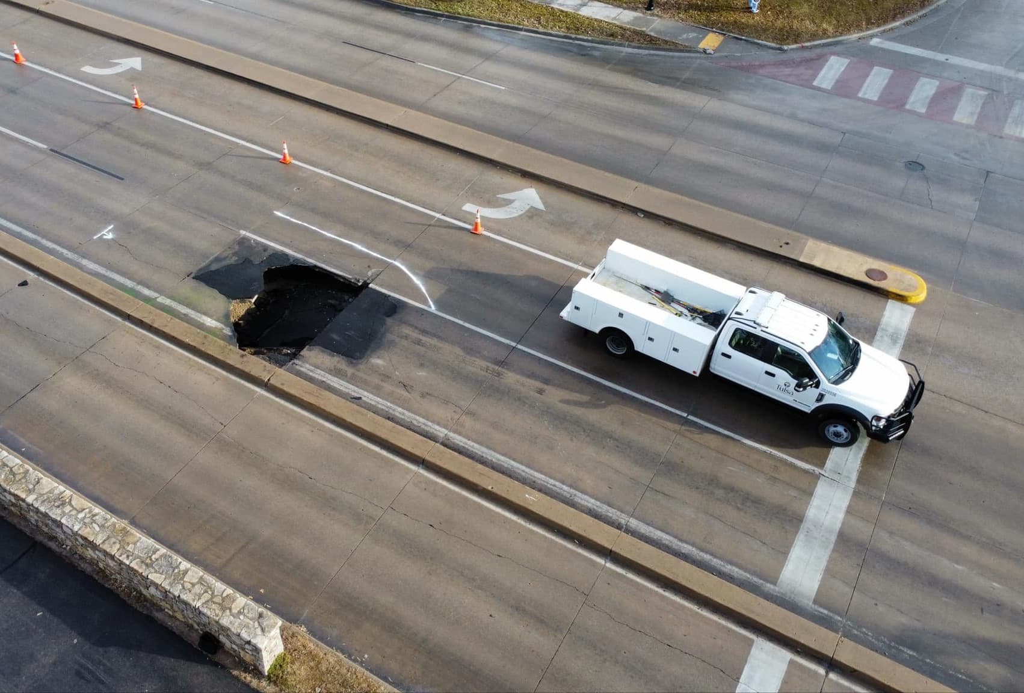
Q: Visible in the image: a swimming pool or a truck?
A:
truck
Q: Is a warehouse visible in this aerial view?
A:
No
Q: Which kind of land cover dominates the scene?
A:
paved ground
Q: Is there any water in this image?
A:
No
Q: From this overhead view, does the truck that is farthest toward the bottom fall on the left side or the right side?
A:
right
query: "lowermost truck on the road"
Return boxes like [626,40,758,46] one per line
[558,238,926,444]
